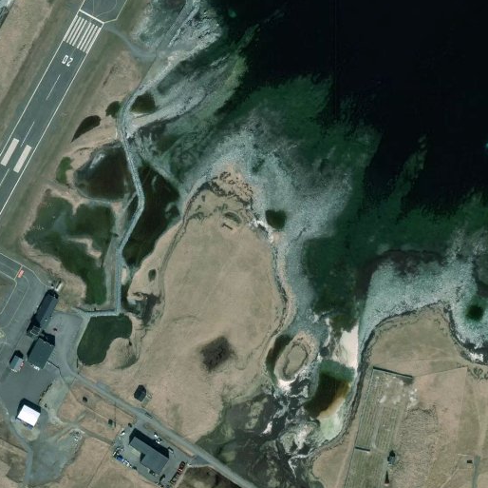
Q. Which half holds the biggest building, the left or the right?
left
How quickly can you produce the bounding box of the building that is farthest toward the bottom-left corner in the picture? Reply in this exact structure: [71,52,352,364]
[17,404,40,426]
